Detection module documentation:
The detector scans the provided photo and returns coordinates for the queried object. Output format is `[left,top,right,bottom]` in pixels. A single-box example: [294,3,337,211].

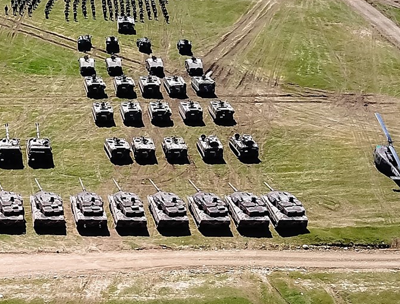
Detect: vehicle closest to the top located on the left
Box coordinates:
[115,12,134,31]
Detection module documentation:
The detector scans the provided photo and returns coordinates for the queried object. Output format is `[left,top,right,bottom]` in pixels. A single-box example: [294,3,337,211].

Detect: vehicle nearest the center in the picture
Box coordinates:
[194,131,222,159]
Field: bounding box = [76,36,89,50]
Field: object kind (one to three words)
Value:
vehicle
